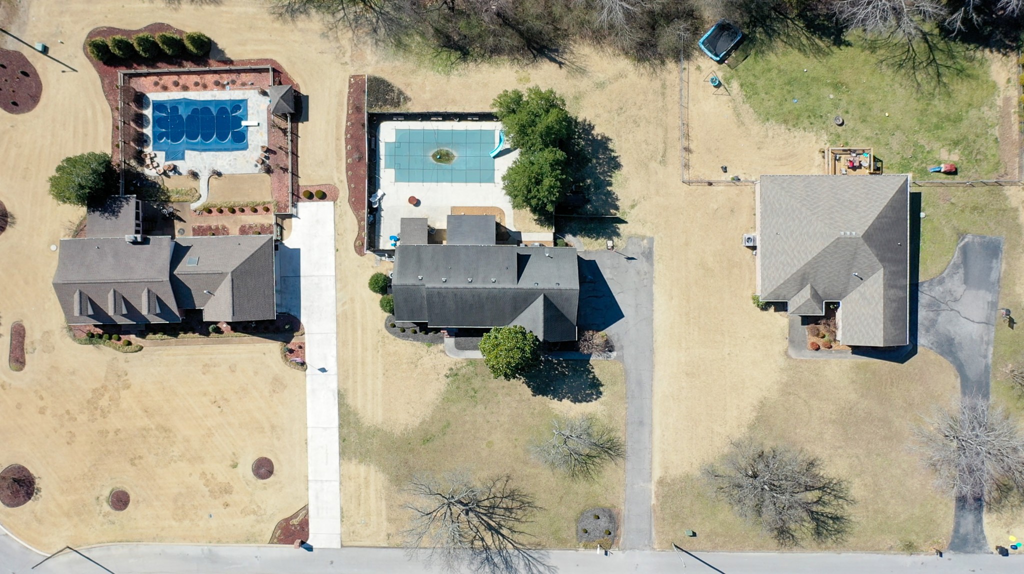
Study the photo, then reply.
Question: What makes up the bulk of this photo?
grass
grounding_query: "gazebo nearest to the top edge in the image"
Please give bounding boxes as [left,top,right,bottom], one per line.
[269,85,300,116]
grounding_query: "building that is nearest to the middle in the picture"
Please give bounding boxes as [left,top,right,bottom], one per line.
[392,215,579,342]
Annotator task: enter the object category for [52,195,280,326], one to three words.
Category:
house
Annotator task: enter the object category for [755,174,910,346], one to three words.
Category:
house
